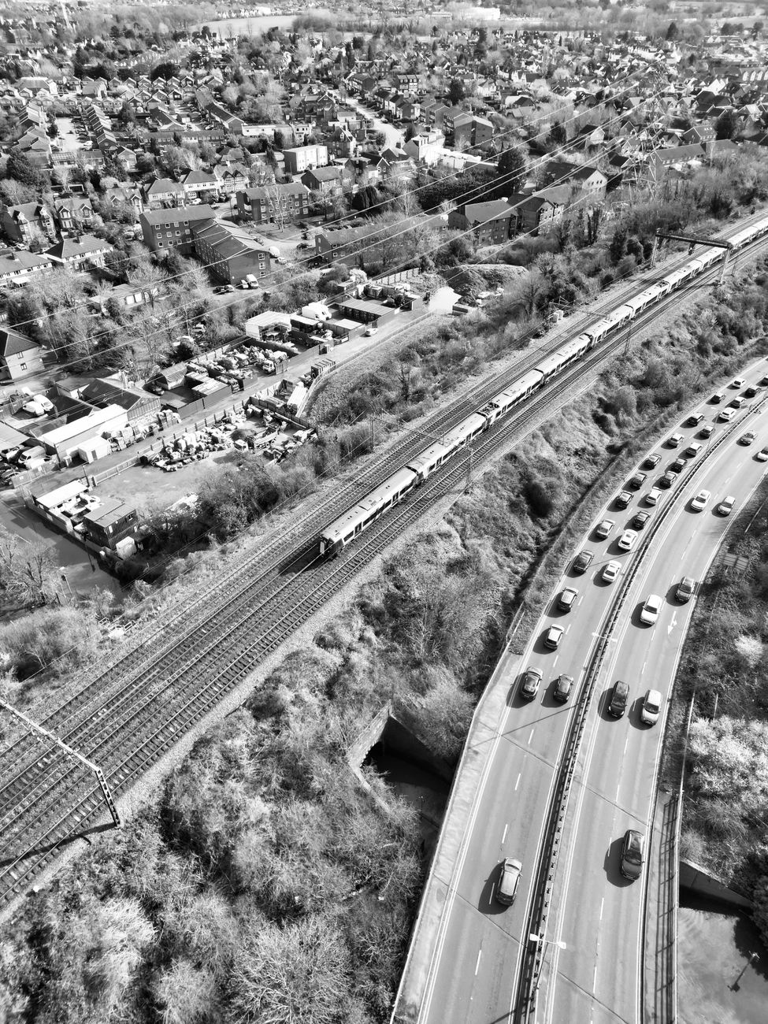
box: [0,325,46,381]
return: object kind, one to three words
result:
house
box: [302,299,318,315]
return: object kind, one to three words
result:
vehicle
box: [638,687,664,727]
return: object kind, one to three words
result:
car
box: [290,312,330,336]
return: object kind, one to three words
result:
shed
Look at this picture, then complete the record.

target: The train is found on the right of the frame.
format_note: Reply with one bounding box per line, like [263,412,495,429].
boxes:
[325,218,768,556]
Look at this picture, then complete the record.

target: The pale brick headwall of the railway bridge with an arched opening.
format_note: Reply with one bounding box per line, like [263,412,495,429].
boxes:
[317,689,392,767]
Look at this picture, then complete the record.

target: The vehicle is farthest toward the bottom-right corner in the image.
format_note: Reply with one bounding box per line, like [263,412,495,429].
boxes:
[618,827,645,883]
